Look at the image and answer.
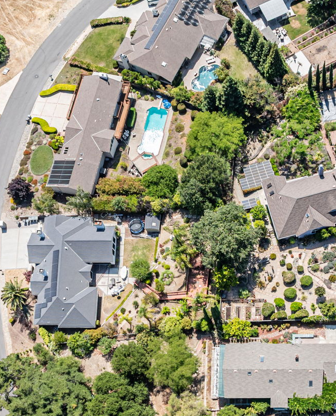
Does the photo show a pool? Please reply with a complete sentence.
Yes, the picture does show a pool.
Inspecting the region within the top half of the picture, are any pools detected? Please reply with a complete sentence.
Yes, a pool appears within the top half of the picture.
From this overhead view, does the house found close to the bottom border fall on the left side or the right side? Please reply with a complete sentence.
It is on the right.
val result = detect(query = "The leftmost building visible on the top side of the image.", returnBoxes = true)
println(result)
[46,73,122,198]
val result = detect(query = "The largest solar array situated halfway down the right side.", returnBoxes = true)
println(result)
[243,161,275,186]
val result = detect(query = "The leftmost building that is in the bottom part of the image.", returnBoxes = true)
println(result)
[25,215,116,329]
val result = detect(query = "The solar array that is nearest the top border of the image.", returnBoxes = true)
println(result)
[144,0,178,49]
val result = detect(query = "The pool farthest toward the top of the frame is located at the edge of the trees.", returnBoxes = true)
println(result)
[190,63,220,93]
